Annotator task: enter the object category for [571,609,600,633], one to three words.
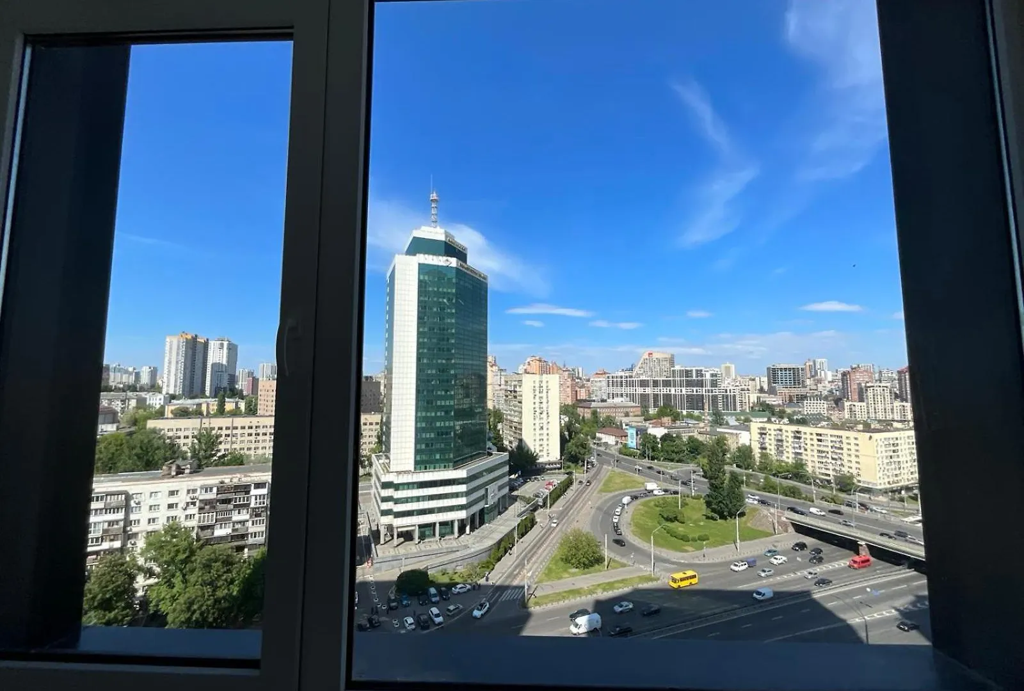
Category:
vehicle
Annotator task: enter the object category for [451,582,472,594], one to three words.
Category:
vehicle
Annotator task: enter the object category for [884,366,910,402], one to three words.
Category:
building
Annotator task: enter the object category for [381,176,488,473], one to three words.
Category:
building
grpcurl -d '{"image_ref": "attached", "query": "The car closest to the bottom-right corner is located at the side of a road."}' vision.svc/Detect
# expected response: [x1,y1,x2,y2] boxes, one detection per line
[893,618,921,632]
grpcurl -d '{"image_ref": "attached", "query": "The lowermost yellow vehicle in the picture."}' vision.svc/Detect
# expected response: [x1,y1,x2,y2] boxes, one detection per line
[669,566,698,588]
